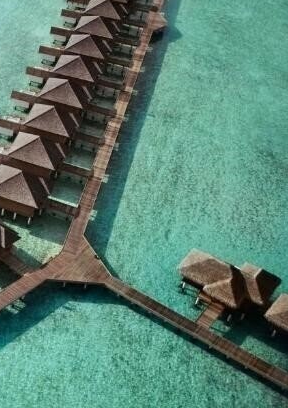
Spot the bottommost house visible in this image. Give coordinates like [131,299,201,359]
[265,294,288,339]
